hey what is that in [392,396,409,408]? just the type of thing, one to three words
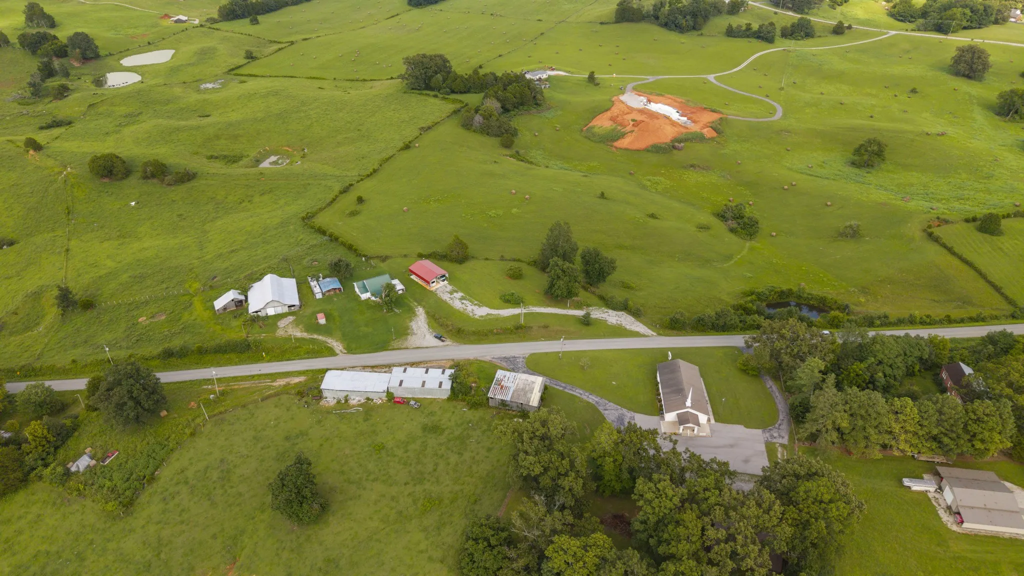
vehicle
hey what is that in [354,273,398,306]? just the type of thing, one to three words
house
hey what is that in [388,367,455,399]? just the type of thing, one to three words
shed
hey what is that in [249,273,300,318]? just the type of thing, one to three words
barn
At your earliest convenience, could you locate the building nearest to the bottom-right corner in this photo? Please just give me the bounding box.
[935,466,1024,536]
